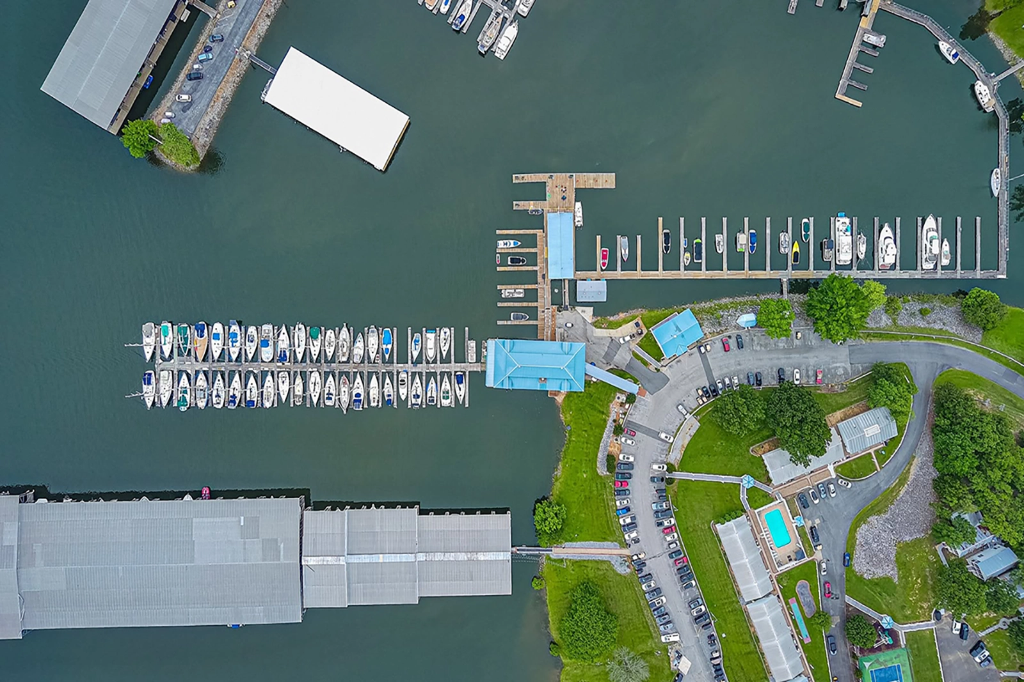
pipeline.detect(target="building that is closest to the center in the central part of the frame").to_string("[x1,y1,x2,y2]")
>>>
[486,339,585,391]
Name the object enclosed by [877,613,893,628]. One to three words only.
gazebo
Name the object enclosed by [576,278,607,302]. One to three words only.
building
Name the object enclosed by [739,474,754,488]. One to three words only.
gazebo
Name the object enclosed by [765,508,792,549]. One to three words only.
swimming pool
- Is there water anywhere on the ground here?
Yes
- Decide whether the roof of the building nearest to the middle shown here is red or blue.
blue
